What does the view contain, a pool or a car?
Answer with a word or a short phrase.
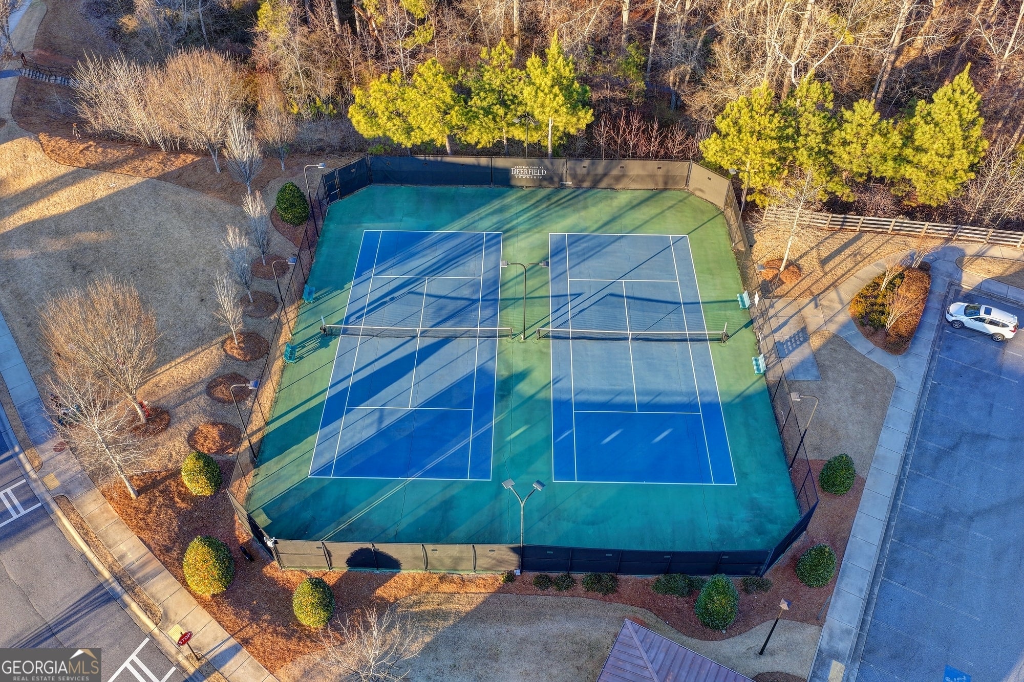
car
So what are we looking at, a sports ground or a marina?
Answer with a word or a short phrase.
sports ground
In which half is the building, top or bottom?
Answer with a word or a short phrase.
bottom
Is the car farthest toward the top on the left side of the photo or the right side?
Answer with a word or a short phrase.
right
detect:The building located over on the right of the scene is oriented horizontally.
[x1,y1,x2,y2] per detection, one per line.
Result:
[595,617,756,682]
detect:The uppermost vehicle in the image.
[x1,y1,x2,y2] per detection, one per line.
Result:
[945,302,1021,342]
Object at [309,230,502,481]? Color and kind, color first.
blue tennis court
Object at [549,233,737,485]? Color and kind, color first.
blue tennis court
